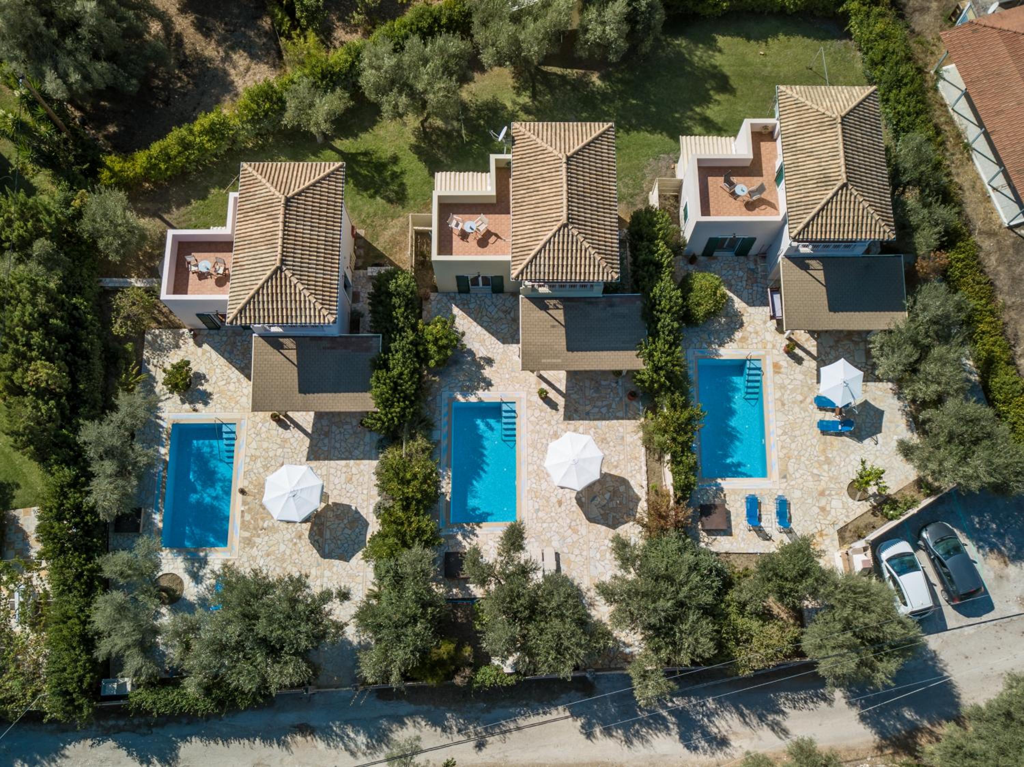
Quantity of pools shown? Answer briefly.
three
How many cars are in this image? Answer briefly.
2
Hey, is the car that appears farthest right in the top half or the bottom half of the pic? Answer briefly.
bottom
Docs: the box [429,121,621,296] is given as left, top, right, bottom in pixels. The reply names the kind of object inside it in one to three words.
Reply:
house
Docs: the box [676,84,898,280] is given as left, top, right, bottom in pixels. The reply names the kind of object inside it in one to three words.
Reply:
house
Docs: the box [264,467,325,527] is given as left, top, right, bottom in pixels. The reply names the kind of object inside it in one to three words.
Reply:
umbrella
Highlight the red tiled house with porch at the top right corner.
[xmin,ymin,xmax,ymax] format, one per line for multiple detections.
[931,1,1024,231]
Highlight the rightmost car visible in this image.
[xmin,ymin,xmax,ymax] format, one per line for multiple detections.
[920,519,986,607]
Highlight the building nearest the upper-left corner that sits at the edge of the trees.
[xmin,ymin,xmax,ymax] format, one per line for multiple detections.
[161,159,358,337]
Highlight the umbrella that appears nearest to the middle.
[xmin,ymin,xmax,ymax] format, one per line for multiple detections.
[544,434,603,493]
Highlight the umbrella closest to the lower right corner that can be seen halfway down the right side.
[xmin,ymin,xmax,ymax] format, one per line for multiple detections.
[816,361,860,436]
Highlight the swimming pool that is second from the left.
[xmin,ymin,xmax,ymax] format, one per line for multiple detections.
[438,391,527,534]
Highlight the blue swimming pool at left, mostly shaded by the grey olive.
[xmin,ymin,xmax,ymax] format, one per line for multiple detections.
[150,413,248,558]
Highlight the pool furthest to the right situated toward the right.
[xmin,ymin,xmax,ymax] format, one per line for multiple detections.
[686,349,782,488]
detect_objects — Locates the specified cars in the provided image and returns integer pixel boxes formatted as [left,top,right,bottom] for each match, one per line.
[920,519,986,607]
[877,536,937,622]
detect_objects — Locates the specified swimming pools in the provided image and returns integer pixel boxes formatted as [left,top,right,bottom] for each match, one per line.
[686,349,782,488]
[150,413,248,558]
[438,391,527,534]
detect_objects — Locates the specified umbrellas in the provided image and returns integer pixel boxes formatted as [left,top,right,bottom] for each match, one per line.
[816,361,860,436]
[264,467,325,527]
[544,434,603,493]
